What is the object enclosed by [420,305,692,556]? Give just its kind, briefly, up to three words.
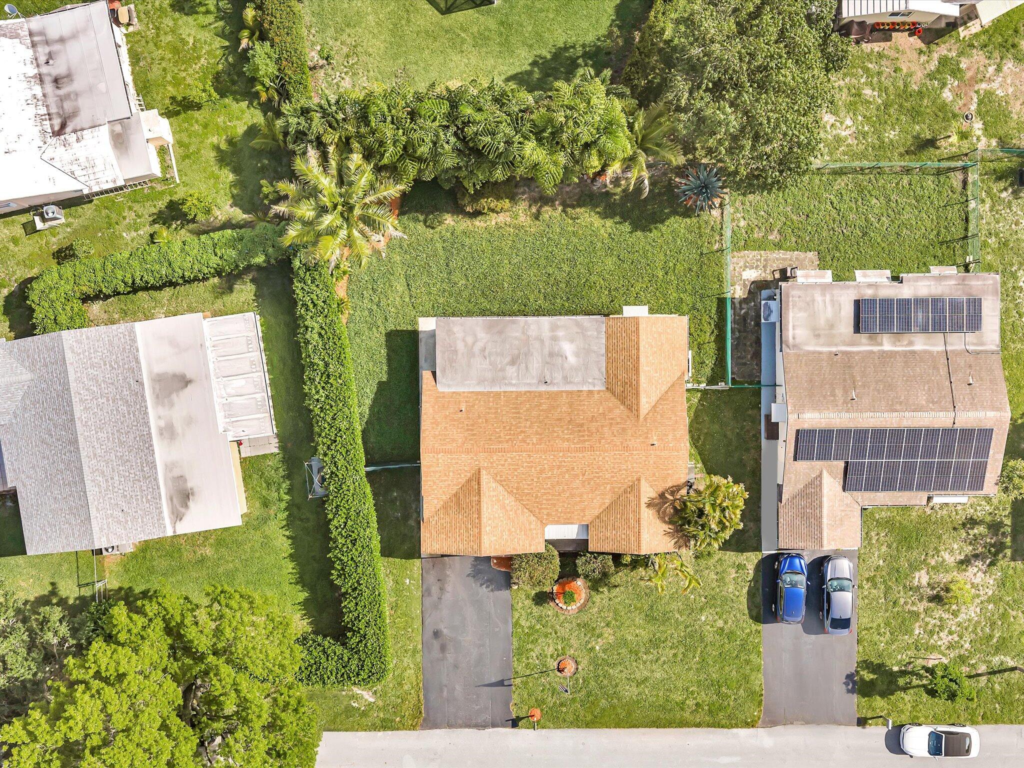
house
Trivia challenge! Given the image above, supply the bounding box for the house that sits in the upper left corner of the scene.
[0,0,166,216]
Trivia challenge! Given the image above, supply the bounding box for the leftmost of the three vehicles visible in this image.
[774,551,812,623]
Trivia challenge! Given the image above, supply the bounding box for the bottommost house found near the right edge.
[761,266,1011,551]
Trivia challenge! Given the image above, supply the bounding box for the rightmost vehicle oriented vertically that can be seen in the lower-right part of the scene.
[820,555,858,635]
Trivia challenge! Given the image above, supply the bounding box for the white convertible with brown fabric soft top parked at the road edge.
[897,723,980,763]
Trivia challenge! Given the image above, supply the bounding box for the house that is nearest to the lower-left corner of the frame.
[0,312,280,559]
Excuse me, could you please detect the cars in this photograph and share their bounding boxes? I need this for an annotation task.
[897,723,980,763]
[820,555,858,635]
[774,551,812,623]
